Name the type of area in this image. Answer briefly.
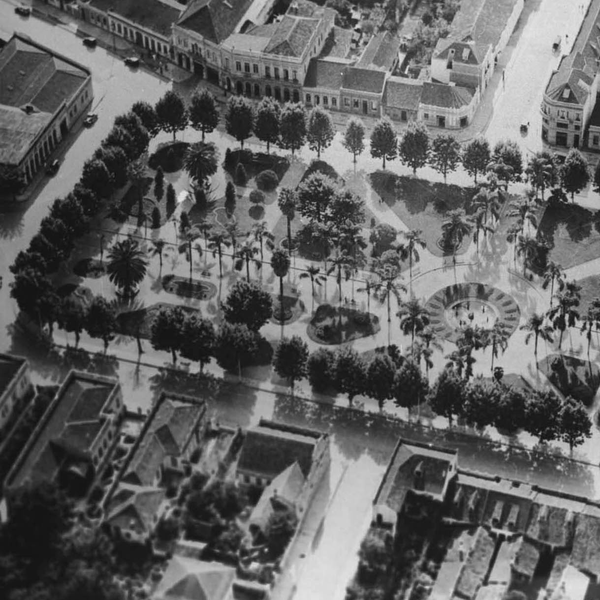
residential area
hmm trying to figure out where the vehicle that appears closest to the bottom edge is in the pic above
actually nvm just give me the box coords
[46,157,61,172]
